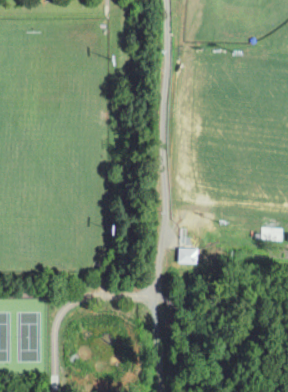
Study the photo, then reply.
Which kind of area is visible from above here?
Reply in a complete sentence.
The area seen from above is a sports ground.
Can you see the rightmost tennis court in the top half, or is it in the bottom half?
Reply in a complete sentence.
The rightmost tennis court sits in the bottom half of the picture.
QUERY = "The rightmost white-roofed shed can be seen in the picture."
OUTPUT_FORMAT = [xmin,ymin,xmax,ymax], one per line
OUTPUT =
[261,227,284,242]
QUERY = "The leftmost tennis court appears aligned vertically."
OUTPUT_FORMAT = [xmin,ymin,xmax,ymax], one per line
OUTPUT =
[0,312,12,362]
